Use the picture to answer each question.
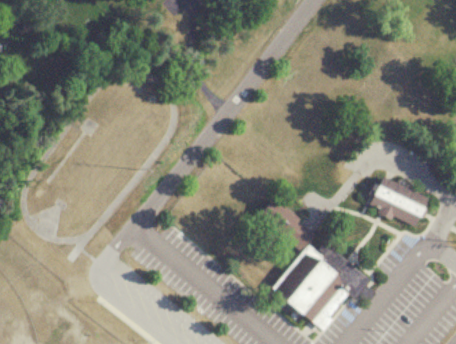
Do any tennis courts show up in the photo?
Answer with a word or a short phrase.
No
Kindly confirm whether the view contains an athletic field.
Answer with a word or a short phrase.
Yes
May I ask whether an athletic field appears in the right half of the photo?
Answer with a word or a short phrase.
No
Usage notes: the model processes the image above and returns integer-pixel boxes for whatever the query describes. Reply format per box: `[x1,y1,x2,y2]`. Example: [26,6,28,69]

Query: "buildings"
[274,244,352,332]
[372,178,430,226]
